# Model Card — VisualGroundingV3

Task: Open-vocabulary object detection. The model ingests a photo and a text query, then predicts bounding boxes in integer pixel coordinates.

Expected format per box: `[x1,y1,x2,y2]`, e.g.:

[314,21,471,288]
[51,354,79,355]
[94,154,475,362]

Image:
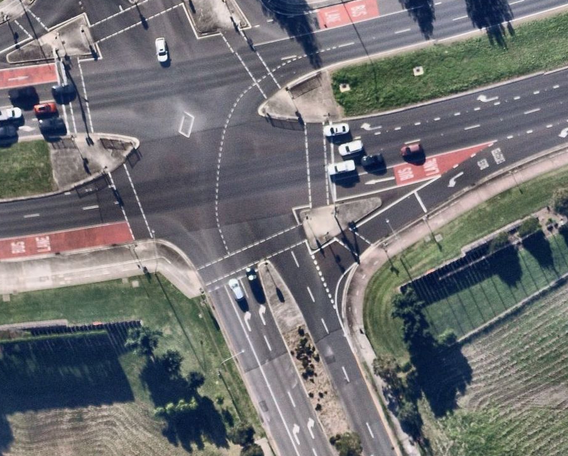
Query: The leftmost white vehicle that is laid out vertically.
[155,38,168,64]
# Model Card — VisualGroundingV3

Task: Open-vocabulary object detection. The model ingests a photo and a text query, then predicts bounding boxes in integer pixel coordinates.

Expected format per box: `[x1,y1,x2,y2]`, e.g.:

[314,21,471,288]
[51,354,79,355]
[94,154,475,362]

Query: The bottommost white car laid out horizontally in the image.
[328,162,355,176]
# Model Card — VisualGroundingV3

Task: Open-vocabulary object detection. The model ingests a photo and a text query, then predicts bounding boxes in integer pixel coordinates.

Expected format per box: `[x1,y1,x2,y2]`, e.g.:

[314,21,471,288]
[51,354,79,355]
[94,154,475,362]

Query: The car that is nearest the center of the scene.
[245,265,262,291]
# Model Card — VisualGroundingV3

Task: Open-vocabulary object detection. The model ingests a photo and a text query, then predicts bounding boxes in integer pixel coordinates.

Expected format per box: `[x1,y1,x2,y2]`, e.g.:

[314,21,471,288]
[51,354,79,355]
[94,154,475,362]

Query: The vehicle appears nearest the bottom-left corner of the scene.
[231,279,246,302]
